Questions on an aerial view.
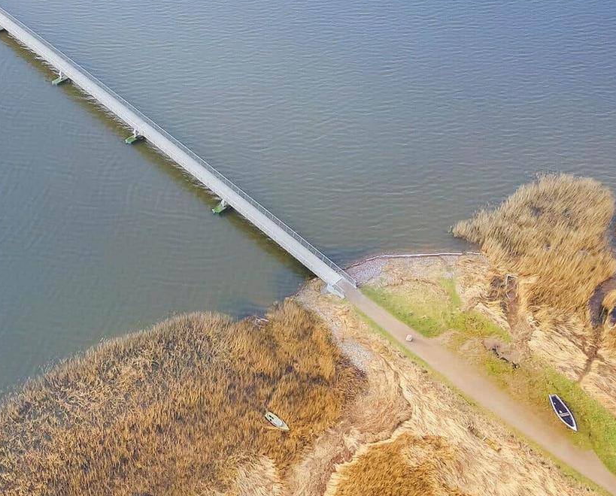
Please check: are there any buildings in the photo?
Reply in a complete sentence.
No, the picture doesn't show any building.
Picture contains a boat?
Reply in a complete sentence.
Yes, a boat is visible in the scene.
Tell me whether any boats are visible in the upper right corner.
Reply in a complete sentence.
No, in the upper right corner there is no boat.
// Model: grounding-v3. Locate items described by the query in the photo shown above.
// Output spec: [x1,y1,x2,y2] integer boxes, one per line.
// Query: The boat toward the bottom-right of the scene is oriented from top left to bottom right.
[548,394,578,431]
